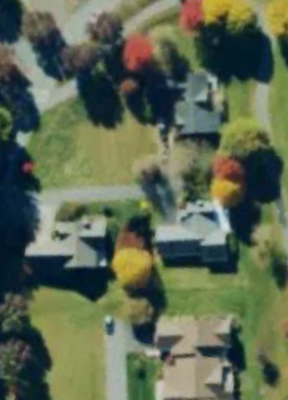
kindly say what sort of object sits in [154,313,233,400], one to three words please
house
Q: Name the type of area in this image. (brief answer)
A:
residential area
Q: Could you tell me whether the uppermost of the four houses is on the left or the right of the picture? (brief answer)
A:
right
